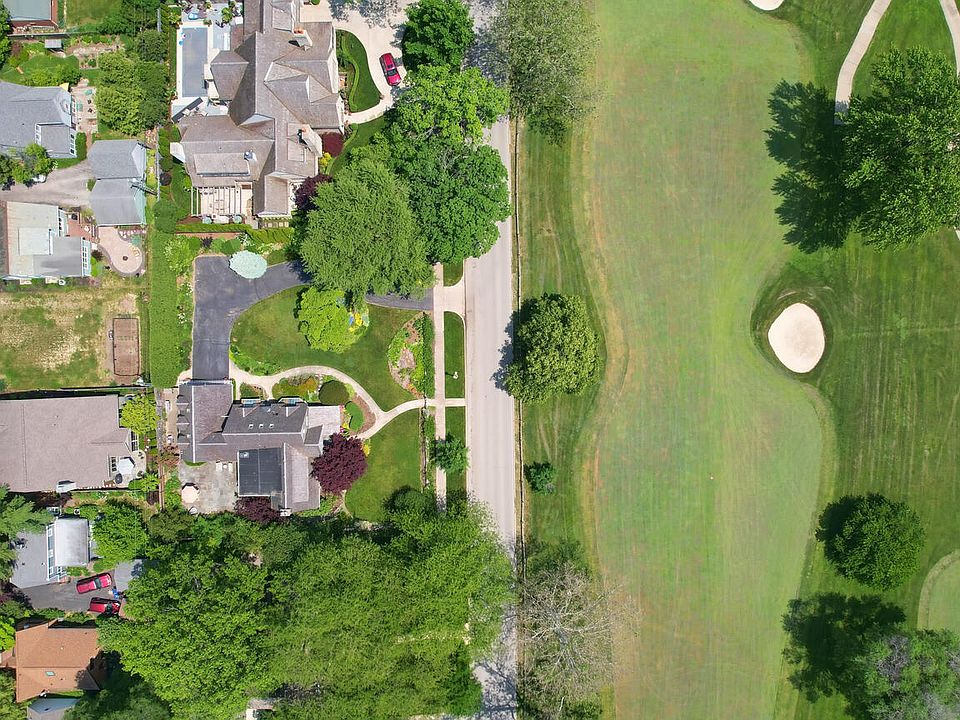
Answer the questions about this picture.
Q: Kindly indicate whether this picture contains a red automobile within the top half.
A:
Yes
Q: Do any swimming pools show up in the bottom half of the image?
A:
No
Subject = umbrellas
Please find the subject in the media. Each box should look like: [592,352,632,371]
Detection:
[181,485,200,503]
[116,458,137,475]
[113,473,128,484]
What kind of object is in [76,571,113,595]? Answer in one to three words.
car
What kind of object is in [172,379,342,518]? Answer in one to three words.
house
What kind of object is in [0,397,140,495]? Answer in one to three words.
house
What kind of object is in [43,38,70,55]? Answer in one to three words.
shed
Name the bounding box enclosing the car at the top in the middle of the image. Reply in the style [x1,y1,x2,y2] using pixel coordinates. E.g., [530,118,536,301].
[378,51,402,87]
